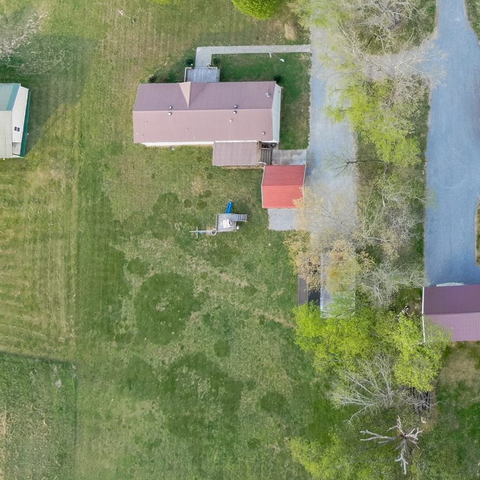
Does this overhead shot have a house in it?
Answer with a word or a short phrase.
Yes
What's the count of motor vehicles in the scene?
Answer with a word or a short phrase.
0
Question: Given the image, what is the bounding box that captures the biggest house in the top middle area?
[132,63,280,166]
